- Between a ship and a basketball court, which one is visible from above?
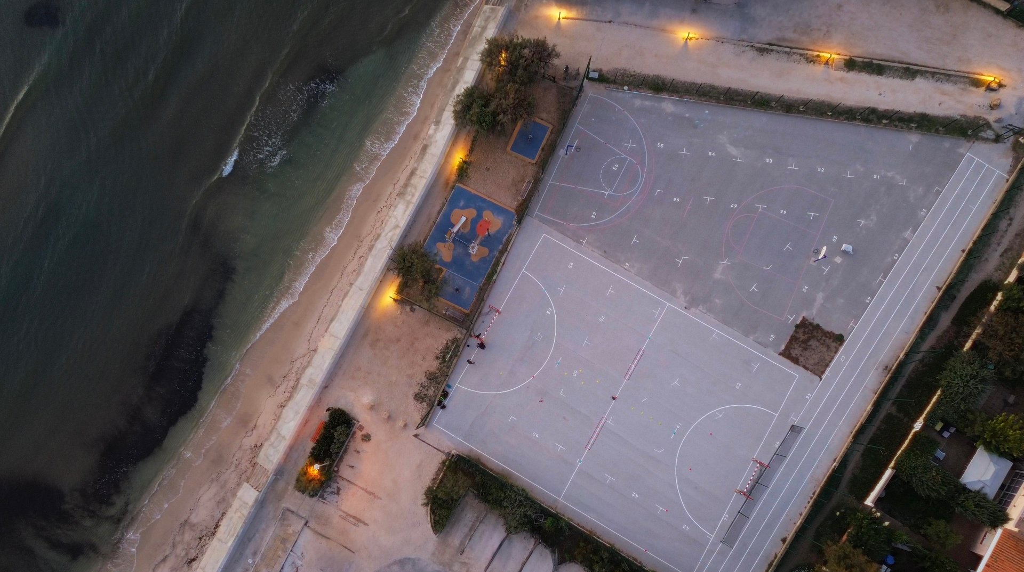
basketball court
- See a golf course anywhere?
No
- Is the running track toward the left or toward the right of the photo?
right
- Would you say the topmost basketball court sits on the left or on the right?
right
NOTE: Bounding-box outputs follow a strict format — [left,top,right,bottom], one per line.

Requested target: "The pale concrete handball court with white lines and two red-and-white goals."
[416,215,821,572]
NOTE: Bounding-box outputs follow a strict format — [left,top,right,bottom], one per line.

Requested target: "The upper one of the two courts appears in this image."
[527,85,967,379]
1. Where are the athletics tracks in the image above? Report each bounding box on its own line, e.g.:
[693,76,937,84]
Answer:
[704,142,1021,572]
